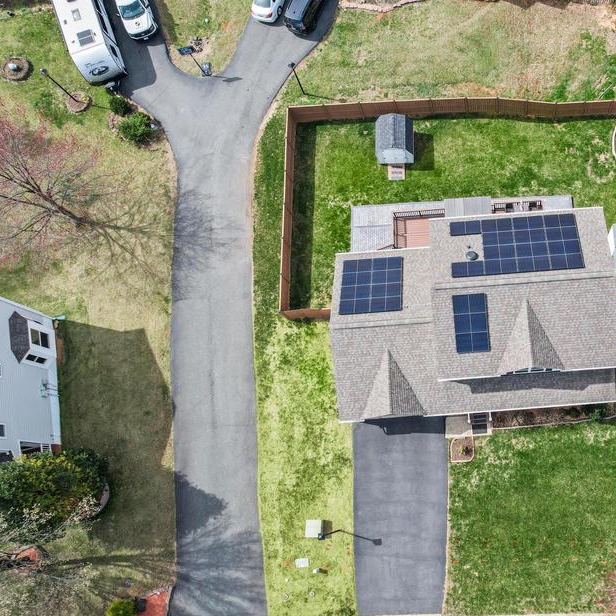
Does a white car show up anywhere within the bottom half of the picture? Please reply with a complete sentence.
No, no white car is visible within the bottom half of the picture.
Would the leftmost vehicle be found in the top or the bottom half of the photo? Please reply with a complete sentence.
Seen from above, the leftmost vehicle lies in the top half of the view.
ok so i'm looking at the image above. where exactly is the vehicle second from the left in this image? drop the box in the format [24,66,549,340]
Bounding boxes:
[116,0,161,43]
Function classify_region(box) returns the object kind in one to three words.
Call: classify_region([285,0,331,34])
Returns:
car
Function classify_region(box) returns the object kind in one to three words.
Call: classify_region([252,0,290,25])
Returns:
car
